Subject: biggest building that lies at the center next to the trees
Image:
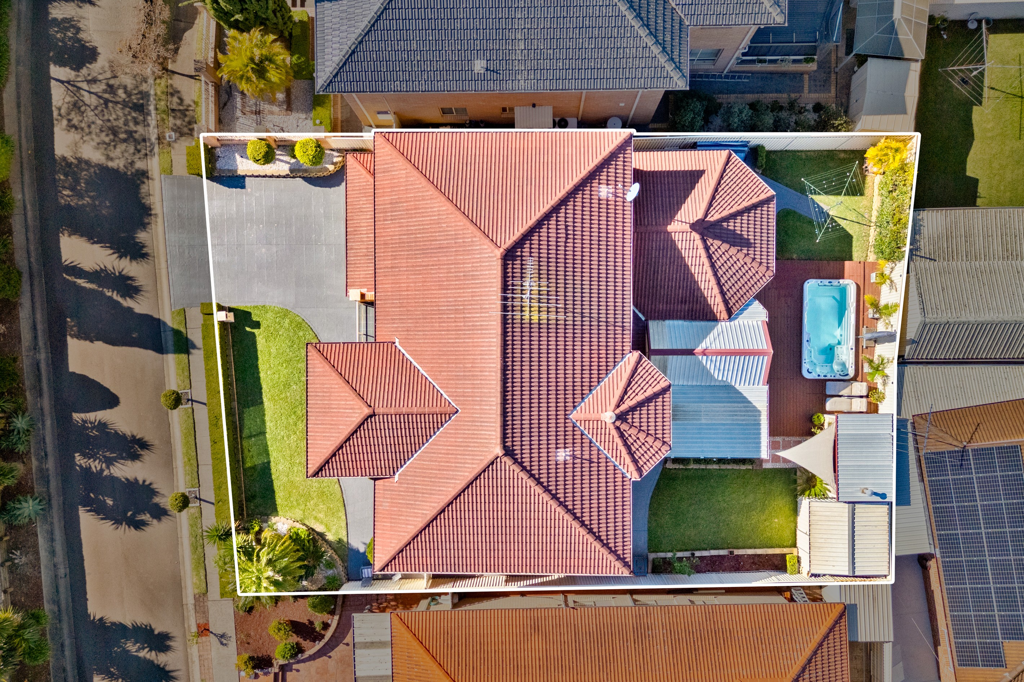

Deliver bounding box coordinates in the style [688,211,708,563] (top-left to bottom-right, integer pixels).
[303,128,778,578]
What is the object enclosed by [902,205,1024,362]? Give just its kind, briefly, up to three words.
building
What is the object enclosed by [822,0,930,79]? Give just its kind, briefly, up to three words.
gazebo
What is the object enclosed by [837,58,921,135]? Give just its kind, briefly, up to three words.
shed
